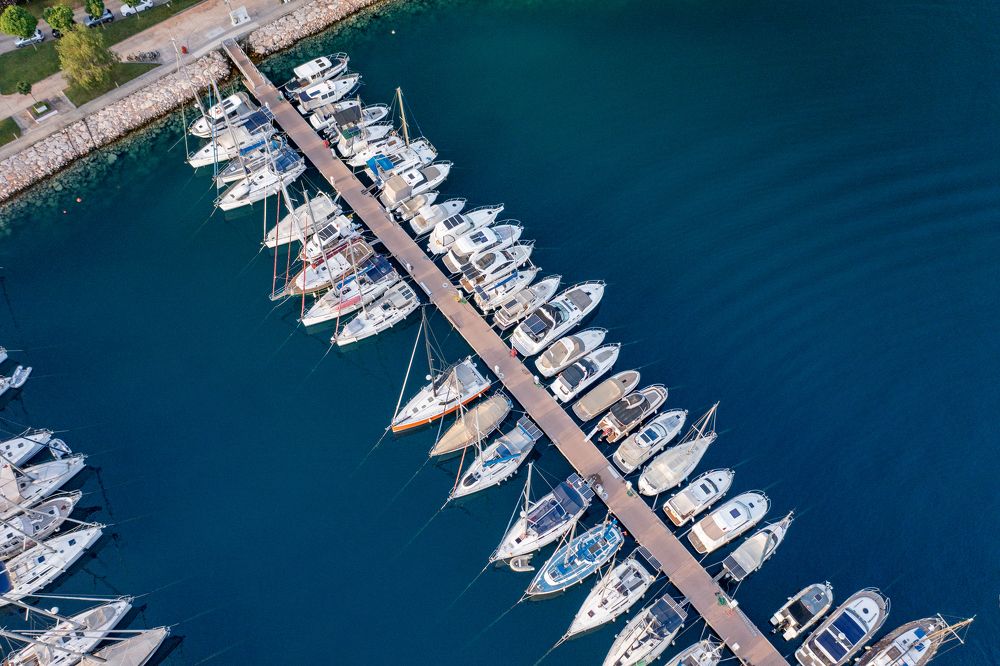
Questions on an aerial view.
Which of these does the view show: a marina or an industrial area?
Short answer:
marina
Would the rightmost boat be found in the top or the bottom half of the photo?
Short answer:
bottom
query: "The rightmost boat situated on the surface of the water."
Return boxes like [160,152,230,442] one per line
[848,615,973,666]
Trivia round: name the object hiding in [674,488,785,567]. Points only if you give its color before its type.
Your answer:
white boat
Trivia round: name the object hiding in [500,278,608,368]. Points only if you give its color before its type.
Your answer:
white boat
